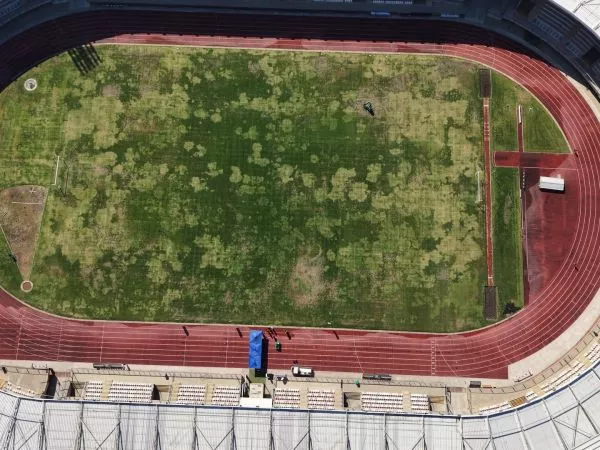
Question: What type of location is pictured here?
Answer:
sports ground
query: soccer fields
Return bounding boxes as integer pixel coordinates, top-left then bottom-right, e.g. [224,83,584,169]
[0,44,575,332]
